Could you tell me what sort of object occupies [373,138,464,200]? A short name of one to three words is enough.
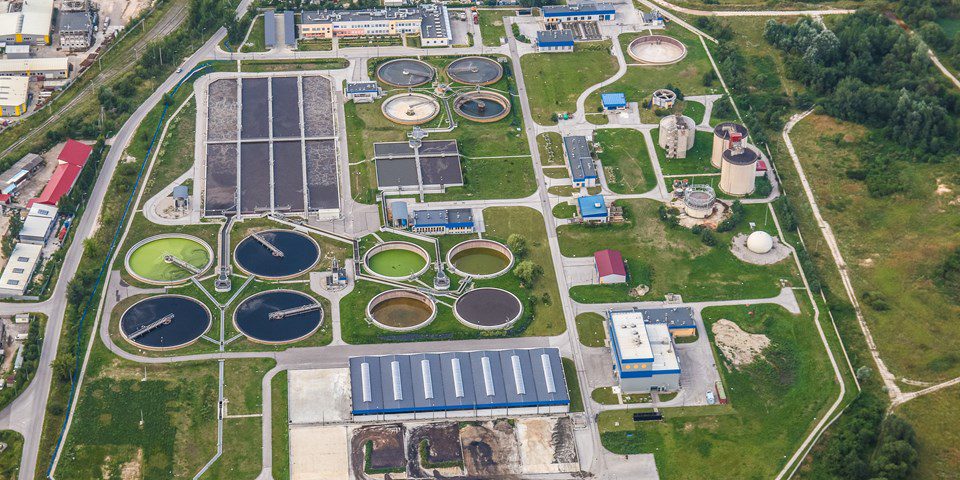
storage tank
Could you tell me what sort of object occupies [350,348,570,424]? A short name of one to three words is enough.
building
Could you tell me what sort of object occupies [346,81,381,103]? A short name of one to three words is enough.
house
